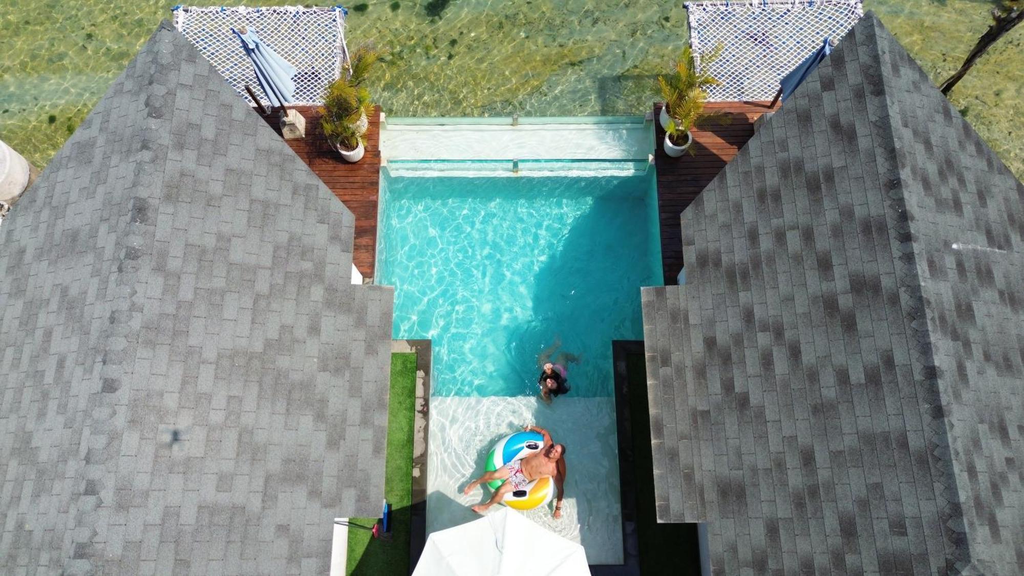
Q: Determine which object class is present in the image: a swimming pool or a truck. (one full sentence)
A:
Visible in the photo is a swimming pool.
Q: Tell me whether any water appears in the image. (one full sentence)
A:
Yes, water can be seen from above here.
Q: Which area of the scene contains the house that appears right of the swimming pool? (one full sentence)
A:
You can find the house that appears right of the swimming pool in the right area of the picture.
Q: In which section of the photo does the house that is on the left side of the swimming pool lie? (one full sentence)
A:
The house that is on the left side of the swimming pool is located in the left region of the scene.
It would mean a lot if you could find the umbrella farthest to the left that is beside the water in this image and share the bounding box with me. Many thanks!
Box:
[231,23,313,146]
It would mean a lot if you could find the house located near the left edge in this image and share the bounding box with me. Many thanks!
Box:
[0,20,397,576]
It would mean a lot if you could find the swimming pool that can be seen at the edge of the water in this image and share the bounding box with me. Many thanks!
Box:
[380,163,658,564]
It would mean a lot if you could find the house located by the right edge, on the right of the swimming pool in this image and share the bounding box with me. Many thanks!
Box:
[641,10,1024,576]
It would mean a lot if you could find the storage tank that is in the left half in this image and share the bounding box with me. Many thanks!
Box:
[0,136,34,207]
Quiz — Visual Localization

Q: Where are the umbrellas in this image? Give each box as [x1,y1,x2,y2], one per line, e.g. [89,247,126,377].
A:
[231,23,313,146]
[754,39,837,133]
[411,508,588,576]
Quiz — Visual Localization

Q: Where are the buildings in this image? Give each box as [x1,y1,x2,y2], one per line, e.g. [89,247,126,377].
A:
[0,20,397,576]
[641,10,1024,576]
